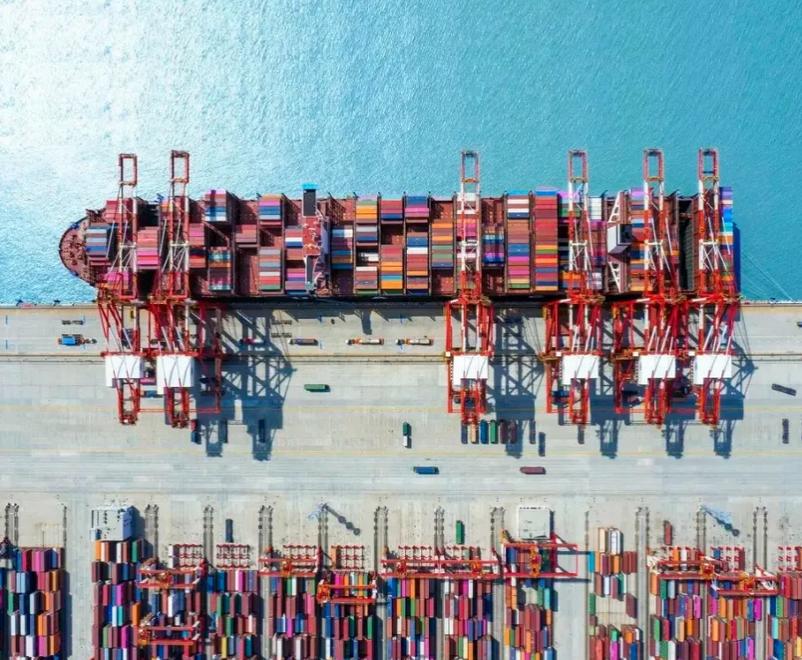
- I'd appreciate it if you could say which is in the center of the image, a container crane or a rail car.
container crane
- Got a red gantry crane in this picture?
Yes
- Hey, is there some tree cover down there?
No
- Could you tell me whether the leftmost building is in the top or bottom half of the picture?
bottom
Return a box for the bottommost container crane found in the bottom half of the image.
[139,604,205,645]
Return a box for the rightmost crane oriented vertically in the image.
[657,151,743,428]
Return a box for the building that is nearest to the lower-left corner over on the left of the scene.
[91,503,132,539]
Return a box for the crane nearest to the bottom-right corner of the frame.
[704,556,779,596]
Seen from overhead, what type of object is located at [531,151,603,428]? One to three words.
container crane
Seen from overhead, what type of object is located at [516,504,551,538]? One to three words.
shed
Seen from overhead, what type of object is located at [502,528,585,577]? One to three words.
container crane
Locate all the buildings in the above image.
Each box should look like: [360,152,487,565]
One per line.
[91,503,132,539]
[516,504,551,538]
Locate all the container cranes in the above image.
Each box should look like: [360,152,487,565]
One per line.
[260,539,320,577]
[152,151,236,428]
[502,528,585,577]
[440,541,500,579]
[657,151,743,428]
[139,550,205,588]
[531,151,603,428]
[381,541,441,579]
[96,153,180,430]
[438,151,492,428]
[647,541,718,579]
[320,564,377,604]
[704,556,779,596]
[598,151,685,428]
